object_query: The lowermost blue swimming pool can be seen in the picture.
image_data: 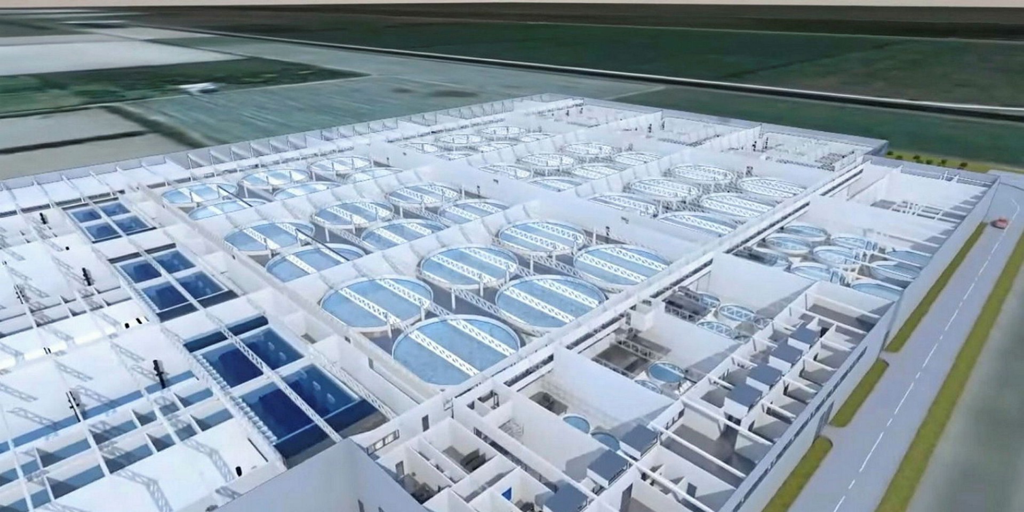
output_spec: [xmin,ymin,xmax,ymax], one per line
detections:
[188,322,365,472]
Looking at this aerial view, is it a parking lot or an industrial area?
industrial area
